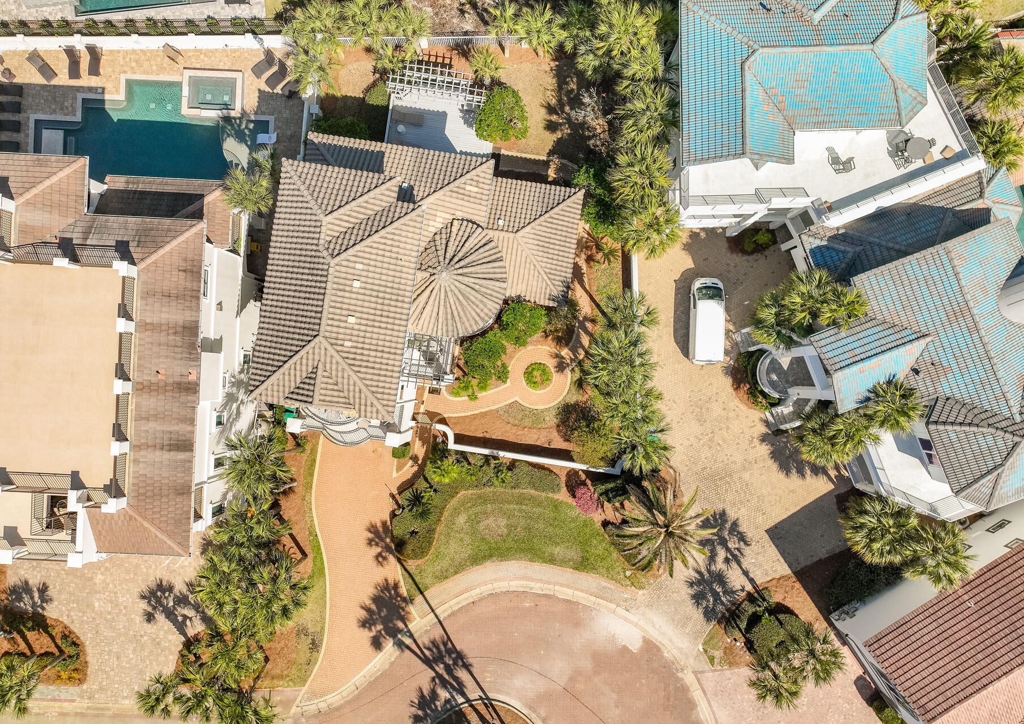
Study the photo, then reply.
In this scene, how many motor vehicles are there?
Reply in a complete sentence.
The picture shows just 1 motor vehicle.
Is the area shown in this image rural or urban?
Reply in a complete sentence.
From above, the setting appears urban.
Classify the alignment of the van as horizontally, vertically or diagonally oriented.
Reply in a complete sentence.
The van is oriented vertically.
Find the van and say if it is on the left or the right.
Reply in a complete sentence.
The van sits on the right side.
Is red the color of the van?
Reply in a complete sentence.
No, the color of the van is white.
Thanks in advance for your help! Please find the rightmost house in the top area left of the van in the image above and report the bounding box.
[247,131,586,446]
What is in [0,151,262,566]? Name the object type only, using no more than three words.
house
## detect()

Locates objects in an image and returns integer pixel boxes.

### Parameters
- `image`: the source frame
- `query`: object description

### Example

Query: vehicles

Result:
[687,277,728,364]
